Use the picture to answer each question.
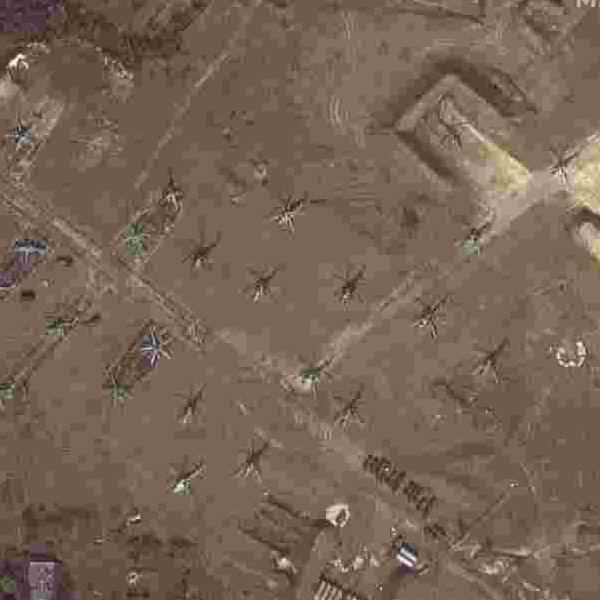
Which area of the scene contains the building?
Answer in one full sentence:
You can find the building in the bottom left area of the picture.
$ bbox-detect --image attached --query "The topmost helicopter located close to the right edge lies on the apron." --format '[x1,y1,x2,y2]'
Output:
[545,153,579,182]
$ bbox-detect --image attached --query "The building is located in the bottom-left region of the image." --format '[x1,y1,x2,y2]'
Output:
[29,561,58,600]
